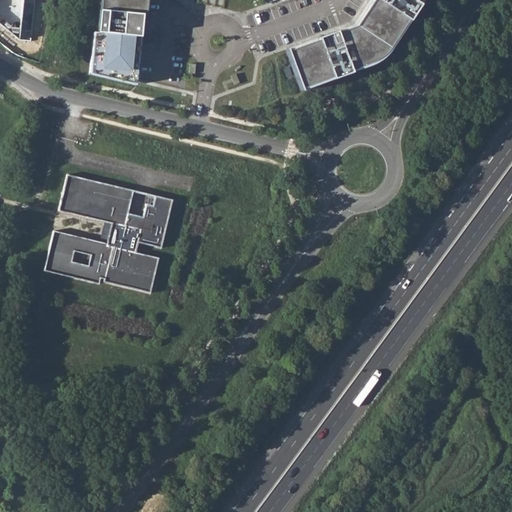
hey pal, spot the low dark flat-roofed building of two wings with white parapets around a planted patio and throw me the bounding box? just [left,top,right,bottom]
[44,174,173,294]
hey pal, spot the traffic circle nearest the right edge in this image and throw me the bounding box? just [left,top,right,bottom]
[322,112,410,234]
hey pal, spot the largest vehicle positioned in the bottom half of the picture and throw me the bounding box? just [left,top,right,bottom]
[352,369,381,406]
